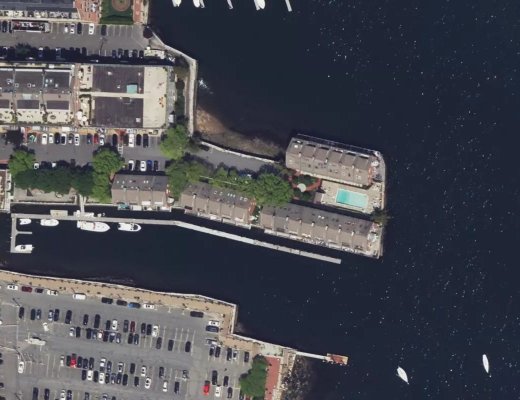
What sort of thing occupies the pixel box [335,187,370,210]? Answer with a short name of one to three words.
swimming pool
